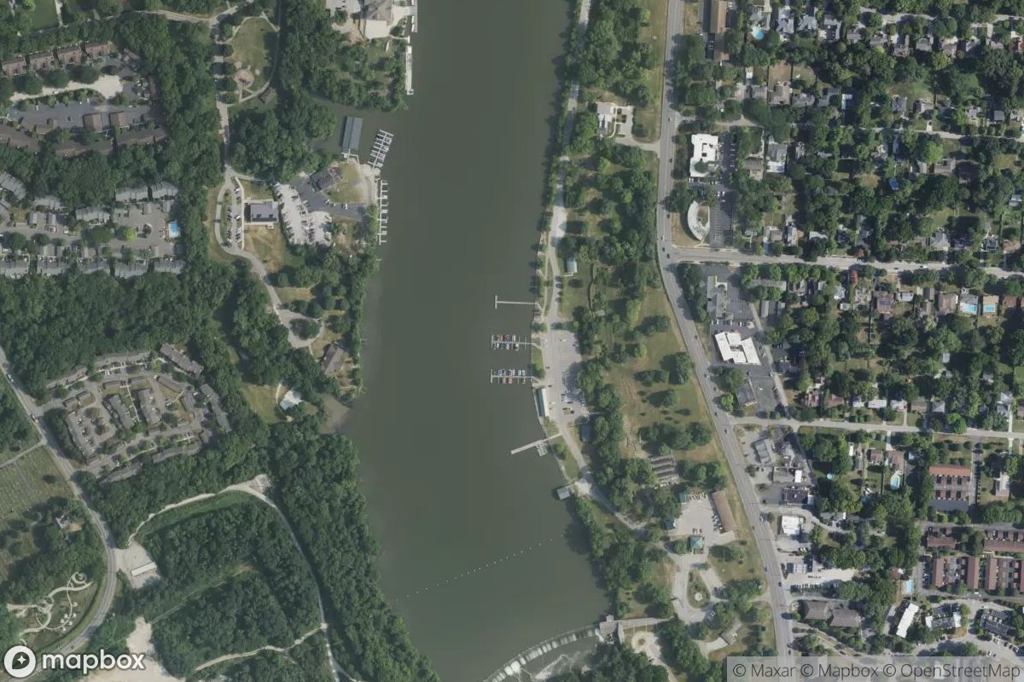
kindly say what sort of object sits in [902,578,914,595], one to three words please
swimming pool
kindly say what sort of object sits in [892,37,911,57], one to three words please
house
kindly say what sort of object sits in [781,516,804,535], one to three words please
building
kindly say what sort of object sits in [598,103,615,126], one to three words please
house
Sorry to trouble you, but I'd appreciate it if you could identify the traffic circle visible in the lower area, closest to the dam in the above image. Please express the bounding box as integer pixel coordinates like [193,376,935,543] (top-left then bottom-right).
[673,556,724,625]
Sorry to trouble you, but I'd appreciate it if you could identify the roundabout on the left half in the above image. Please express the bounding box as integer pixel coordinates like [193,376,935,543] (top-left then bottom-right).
[278,309,325,348]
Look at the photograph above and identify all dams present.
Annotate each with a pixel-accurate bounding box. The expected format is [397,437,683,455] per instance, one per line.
[481,623,600,682]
